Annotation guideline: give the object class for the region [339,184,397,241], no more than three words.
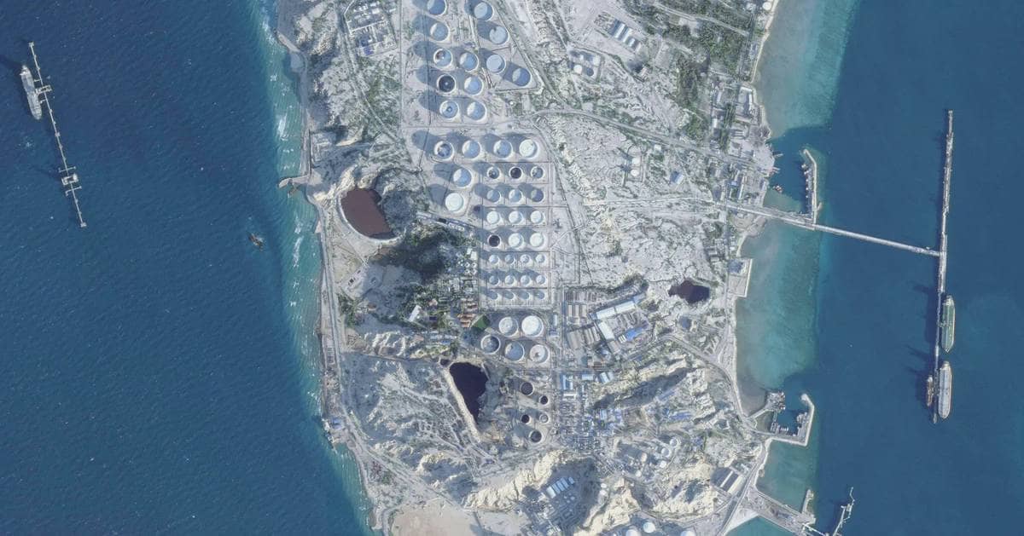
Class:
pond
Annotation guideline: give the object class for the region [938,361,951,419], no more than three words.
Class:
ship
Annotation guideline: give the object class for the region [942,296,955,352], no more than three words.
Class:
ship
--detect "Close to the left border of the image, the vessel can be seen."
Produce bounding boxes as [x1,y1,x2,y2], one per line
[18,65,40,119]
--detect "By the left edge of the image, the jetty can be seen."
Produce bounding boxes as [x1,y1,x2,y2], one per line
[28,41,86,227]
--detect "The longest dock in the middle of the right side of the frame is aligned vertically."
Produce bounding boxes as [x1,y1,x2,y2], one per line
[933,110,953,420]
